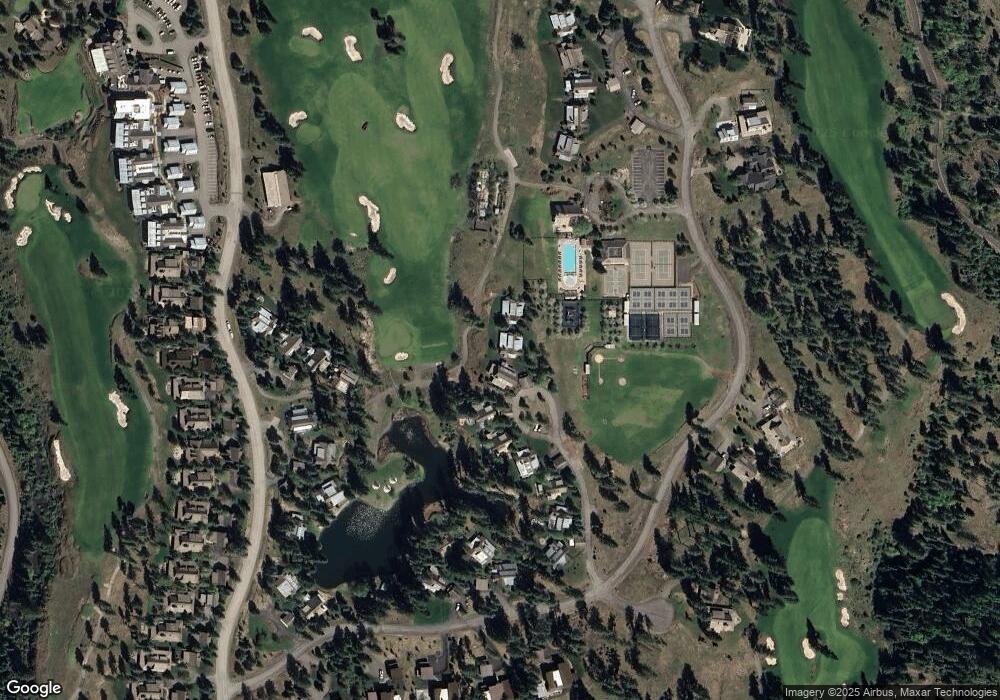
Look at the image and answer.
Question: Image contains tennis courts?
Yes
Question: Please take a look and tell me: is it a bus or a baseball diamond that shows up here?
baseball diamond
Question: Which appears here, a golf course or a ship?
golf course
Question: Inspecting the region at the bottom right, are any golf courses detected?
Yes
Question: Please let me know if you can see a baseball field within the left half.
No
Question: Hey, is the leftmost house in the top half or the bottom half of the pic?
top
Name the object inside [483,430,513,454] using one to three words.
house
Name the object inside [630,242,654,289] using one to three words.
tennis court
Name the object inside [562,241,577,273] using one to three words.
swimming pool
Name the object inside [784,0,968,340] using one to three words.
golf course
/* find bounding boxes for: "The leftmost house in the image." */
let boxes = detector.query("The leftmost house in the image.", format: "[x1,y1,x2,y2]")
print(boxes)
[12,19,42,42]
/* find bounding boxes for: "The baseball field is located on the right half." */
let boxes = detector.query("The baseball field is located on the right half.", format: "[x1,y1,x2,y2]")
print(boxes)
[581,346,718,462]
